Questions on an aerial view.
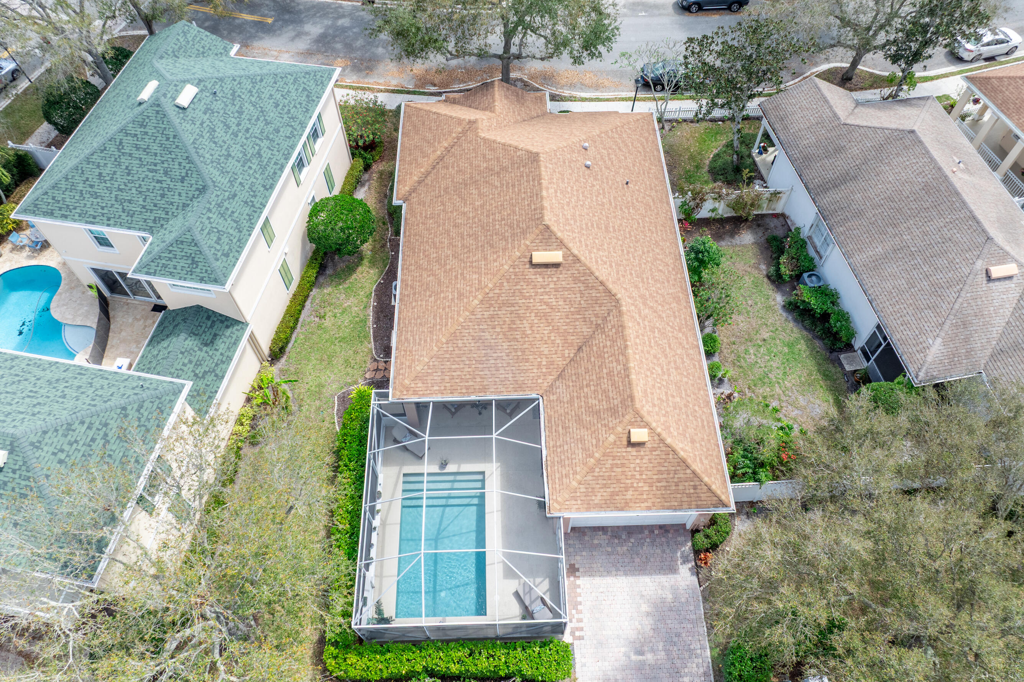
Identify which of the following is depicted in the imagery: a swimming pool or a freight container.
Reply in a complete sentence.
I can see a swimming pool in this picture.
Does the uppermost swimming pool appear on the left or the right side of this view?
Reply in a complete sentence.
The uppermost swimming pool appears in the left half of the scene.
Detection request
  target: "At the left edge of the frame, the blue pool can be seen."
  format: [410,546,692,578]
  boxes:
[0,265,95,362]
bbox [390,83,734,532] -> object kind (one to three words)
house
